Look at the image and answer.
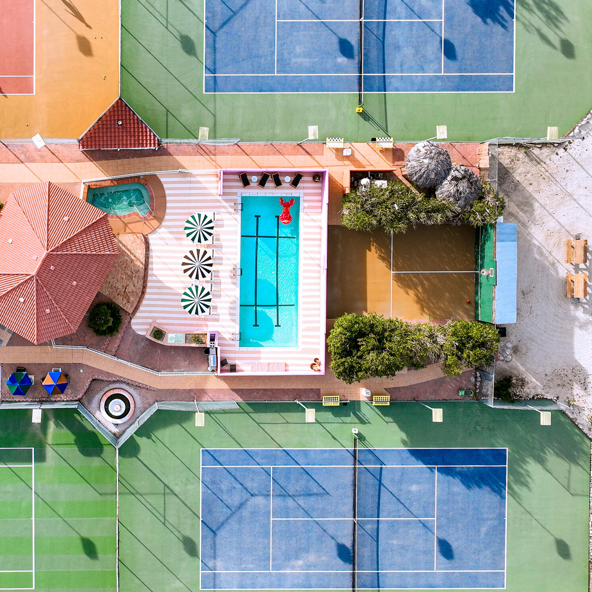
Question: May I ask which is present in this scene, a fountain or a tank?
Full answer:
I can see a fountain in this picture.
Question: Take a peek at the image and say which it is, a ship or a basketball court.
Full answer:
The one in the frame is a basketball court.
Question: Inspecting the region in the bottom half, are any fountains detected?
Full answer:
Yes, there is a fountain in the bottom half.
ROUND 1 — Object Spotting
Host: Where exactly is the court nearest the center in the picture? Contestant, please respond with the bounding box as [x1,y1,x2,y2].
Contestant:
[331,224,477,320]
